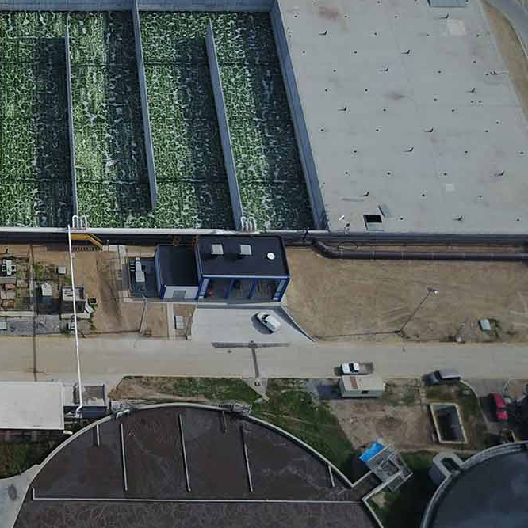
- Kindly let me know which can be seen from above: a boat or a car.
car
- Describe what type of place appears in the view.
industrial area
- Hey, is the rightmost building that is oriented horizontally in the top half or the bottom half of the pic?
bottom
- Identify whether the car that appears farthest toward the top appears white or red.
white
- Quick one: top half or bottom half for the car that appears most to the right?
bottom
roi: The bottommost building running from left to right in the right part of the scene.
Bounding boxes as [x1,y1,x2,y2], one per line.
[335,374,386,397]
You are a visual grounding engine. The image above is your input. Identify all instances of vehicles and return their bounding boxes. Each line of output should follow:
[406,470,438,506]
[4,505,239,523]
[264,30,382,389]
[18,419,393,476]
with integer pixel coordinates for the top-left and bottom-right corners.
[339,360,374,374]
[256,309,283,332]
[426,367,463,384]
[487,392,508,420]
